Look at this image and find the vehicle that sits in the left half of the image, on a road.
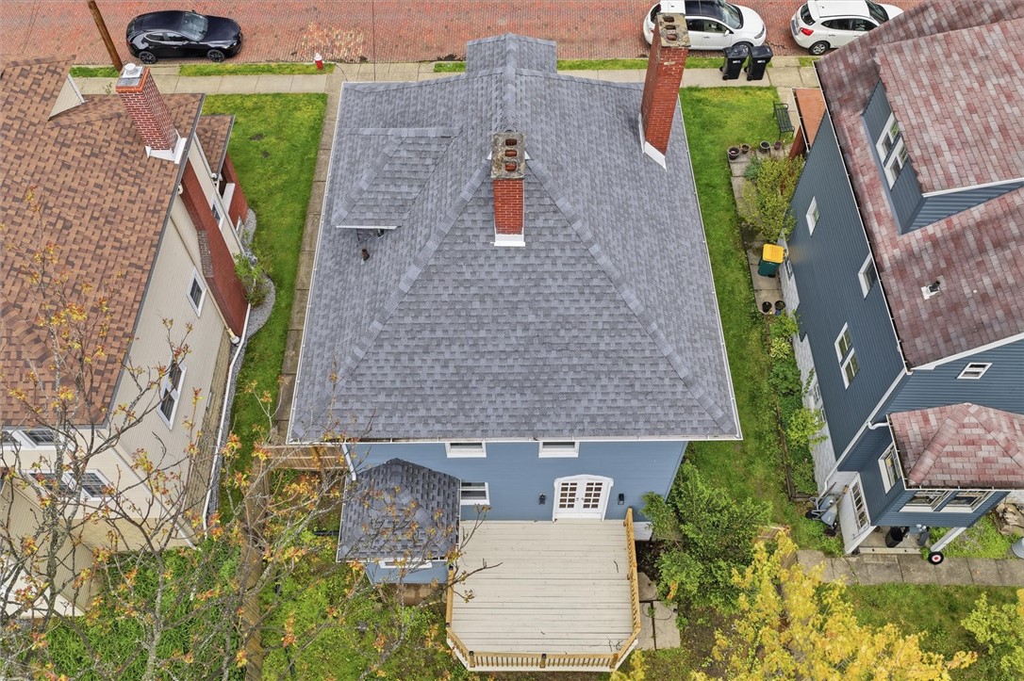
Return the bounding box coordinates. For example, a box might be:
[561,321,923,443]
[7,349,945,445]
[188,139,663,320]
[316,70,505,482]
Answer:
[126,8,245,62]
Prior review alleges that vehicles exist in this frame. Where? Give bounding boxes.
[126,8,245,62]
[786,0,892,58]
[647,2,765,54]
